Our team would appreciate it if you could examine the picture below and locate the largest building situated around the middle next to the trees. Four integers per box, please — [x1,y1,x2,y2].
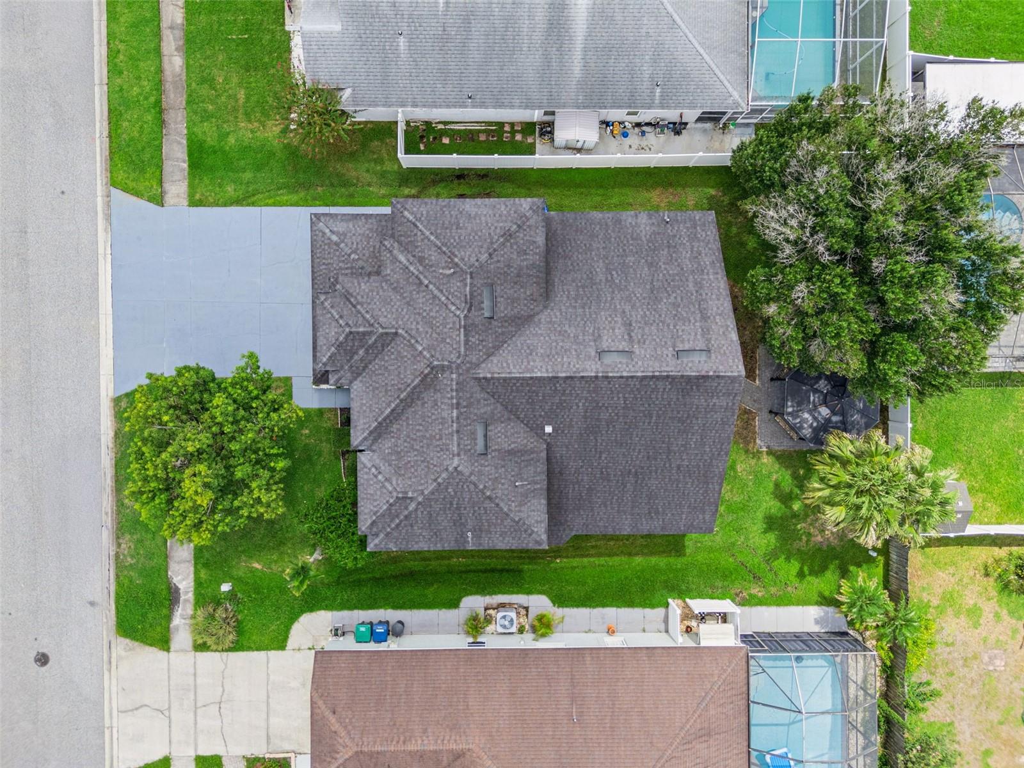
[309,196,746,551]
